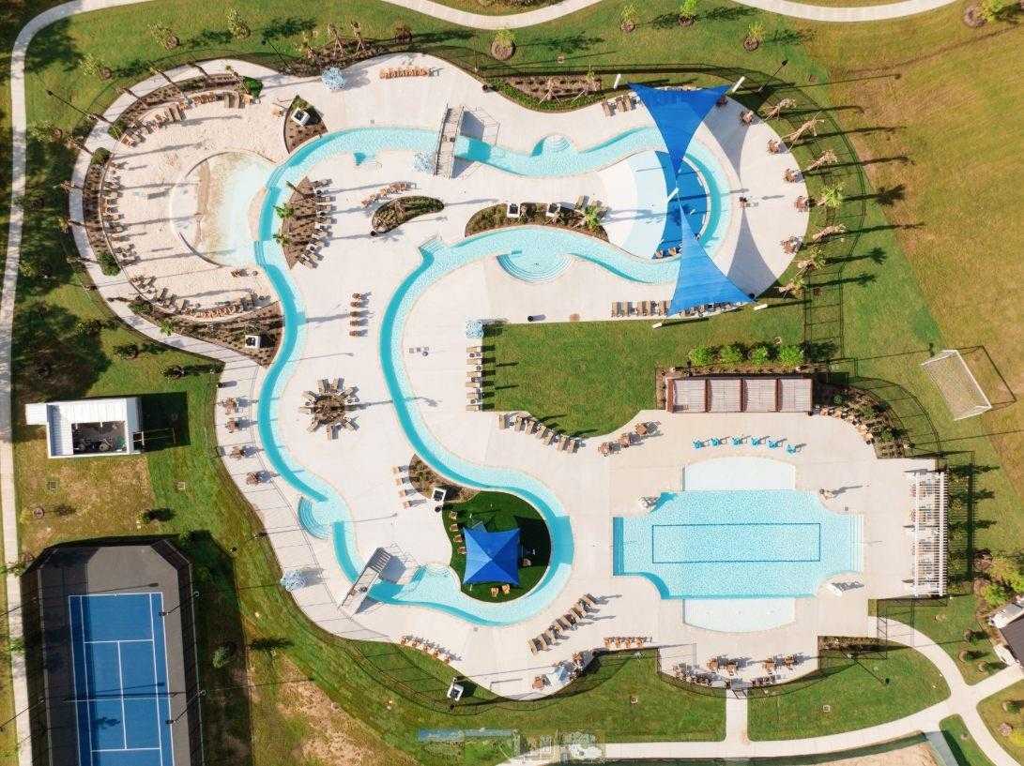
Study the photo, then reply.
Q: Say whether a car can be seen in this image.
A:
No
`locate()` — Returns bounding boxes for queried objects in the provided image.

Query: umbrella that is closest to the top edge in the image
[321,68,345,90]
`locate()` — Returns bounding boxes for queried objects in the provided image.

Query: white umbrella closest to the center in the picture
[466,320,482,336]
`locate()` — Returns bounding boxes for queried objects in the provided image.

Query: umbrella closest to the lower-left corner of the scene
[282,569,305,593]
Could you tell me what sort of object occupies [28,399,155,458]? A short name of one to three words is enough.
building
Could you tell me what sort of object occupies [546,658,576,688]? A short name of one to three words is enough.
umbrella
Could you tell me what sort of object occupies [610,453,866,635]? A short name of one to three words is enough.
swimming pool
